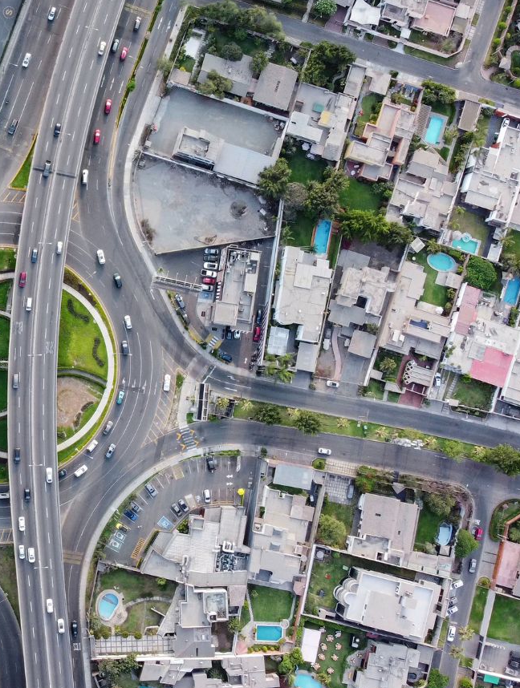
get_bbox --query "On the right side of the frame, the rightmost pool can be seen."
[501,274,520,308]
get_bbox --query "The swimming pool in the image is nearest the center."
[314,218,335,256]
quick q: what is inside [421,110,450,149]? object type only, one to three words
swimming pool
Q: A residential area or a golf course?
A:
residential area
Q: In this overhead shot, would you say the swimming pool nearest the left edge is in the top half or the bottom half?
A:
bottom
